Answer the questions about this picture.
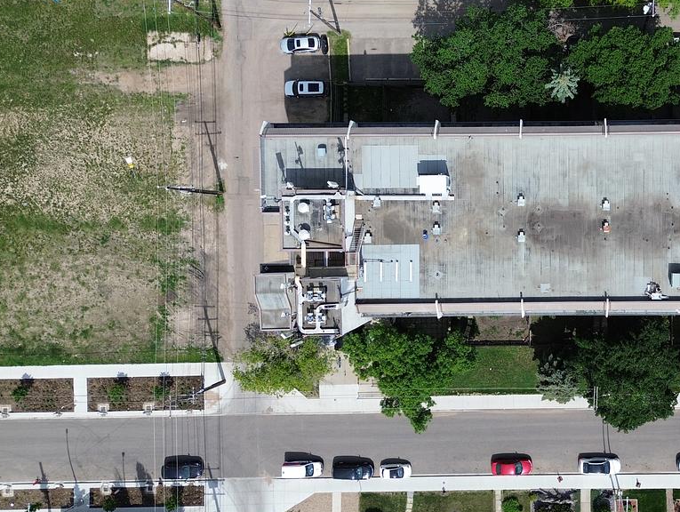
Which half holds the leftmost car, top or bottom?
bottom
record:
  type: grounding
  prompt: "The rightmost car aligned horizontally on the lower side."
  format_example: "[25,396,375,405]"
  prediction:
[579,458,620,478]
